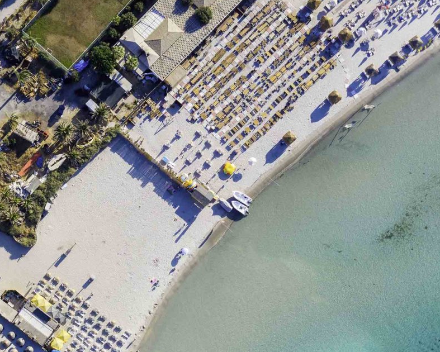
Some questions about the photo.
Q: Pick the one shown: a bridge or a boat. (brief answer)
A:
boat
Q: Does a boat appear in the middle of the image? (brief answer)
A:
Yes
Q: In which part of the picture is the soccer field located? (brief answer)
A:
top left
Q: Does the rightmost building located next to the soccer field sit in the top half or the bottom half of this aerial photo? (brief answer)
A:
top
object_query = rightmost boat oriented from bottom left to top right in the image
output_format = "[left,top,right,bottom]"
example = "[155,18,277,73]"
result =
[51,153,66,169]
